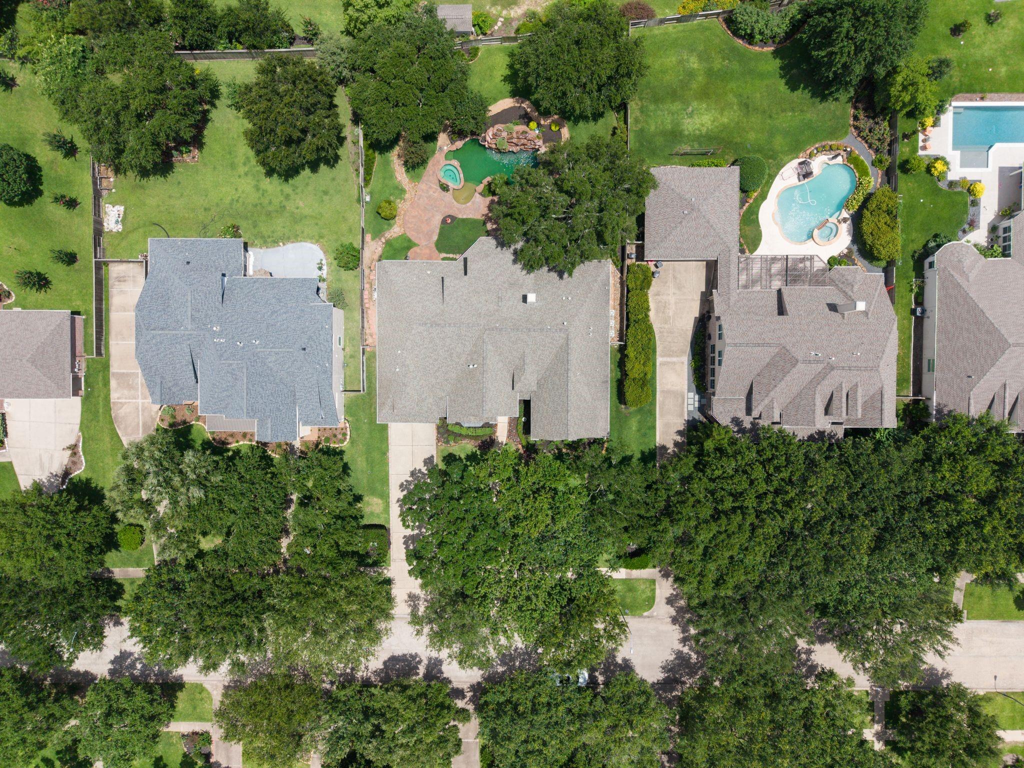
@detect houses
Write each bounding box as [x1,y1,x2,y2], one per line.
[923,208,1024,435]
[138,238,346,442]
[644,165,898,443]
[376,236,611,441]
[0,310,85,399]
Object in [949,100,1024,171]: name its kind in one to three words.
swimming pool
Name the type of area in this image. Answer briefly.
residential area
